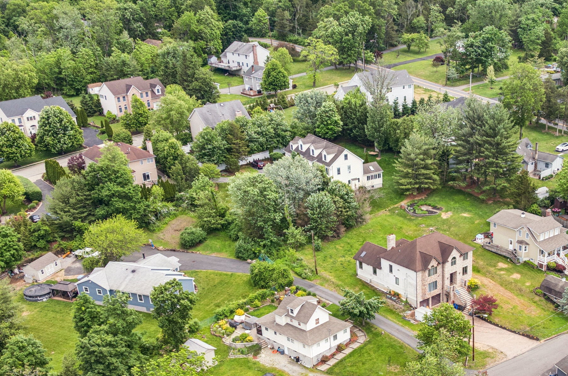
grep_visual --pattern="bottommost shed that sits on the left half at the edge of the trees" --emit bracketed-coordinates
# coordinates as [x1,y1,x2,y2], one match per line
[186,344,220,372]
